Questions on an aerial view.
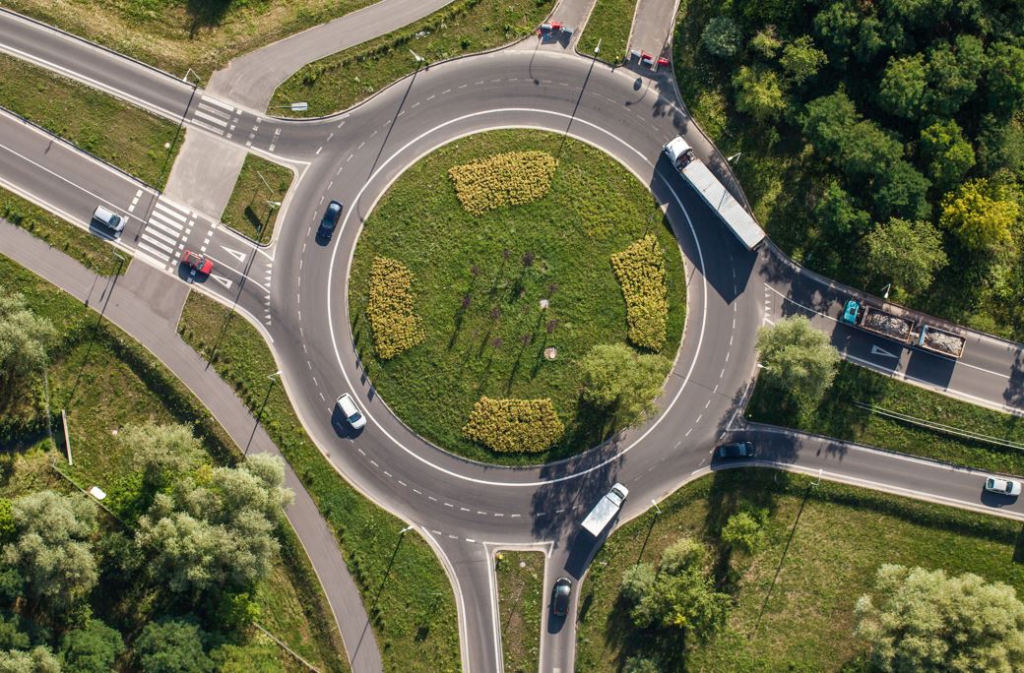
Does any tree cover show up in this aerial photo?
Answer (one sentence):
Yes, there is tree cover in the image.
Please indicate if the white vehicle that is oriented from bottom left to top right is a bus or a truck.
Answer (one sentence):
It looks like the white vehicle that is oriented from bottom left to top right is a truck.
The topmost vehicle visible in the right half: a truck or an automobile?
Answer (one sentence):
What you see as the topmost vehicle visible in the right half is a truck.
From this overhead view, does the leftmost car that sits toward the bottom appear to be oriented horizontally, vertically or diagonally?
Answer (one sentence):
What the image shows is the leftmost car that sits toward the bottom lying diagonally.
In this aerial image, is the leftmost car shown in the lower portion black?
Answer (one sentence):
No, the color of the leftmost car shown in the lower portion is white.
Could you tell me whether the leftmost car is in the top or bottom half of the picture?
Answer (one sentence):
The leftmost car is in the top half of the image.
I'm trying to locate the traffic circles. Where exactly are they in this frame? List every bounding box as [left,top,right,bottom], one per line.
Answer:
[270,51,763,544]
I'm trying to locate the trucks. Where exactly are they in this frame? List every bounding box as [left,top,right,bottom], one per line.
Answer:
[840,300,967,358]
[581,482,629,537]
[662,135,766,250]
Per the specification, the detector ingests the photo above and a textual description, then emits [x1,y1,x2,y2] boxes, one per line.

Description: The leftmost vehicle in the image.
[91,205,126,231]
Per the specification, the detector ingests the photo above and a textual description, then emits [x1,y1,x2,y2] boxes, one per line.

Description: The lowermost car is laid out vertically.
[554,579,571,615]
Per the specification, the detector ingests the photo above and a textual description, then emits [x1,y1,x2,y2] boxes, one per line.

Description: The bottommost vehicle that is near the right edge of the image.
[986,477,1023,495]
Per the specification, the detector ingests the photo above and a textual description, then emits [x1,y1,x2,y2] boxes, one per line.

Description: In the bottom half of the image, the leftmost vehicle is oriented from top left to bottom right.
[335,392,366,428]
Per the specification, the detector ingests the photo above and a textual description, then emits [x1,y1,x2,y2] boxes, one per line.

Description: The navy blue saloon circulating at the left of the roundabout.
[319,200,343,241]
